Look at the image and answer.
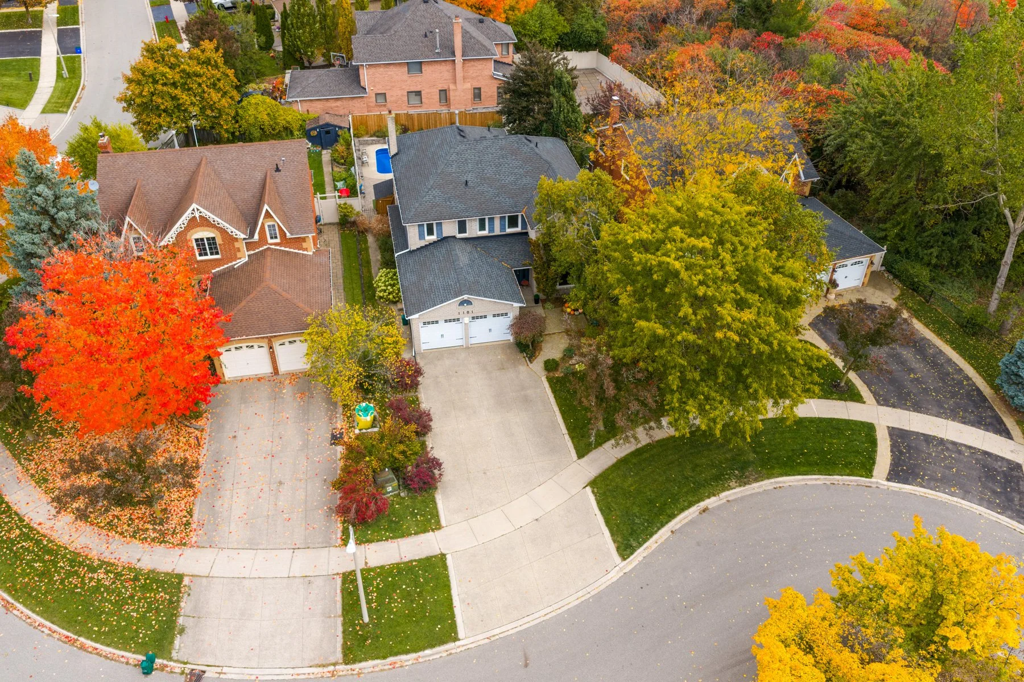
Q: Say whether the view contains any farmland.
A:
No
